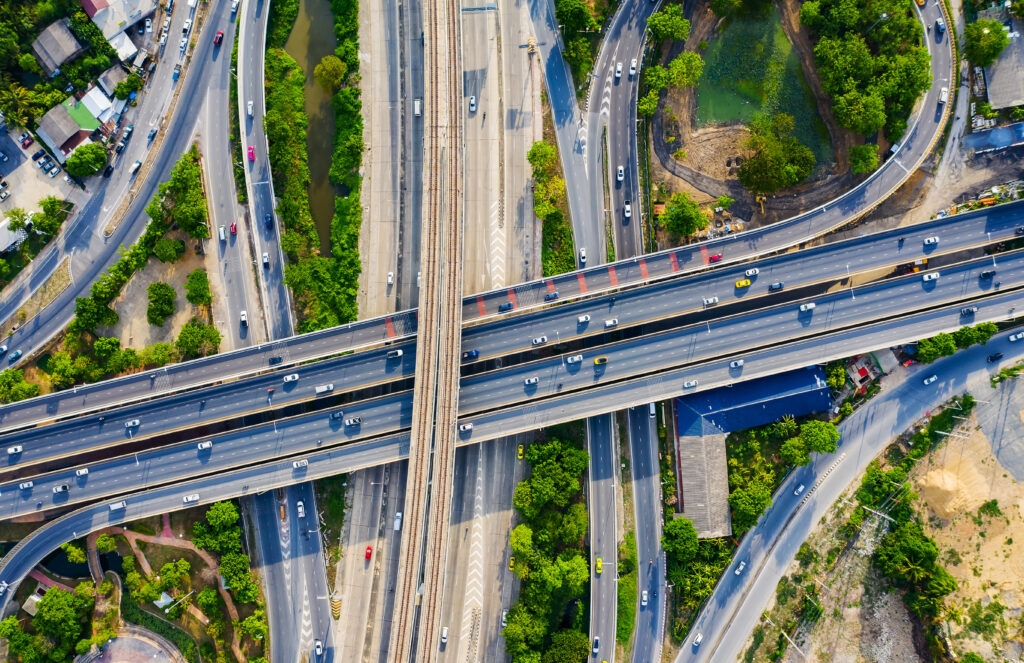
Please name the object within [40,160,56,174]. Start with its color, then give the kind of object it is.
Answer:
blue car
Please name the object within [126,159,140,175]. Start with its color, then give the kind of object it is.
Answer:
white vehicle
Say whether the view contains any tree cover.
Yes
